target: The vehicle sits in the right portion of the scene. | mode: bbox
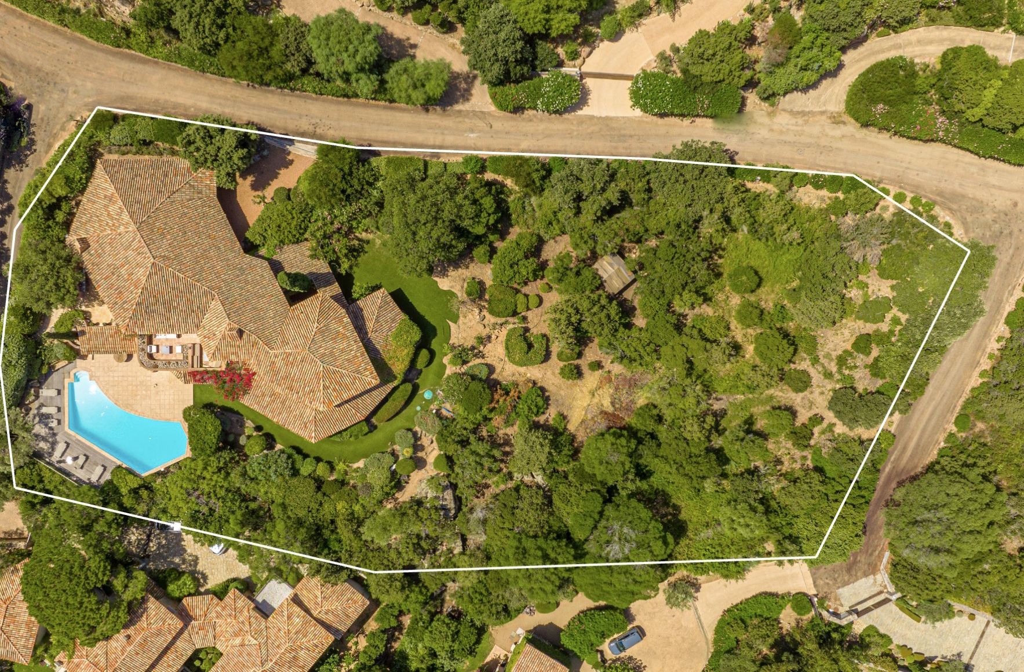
[607,624,644,654]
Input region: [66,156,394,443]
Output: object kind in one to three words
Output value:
house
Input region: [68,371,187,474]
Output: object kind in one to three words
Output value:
swimming pool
